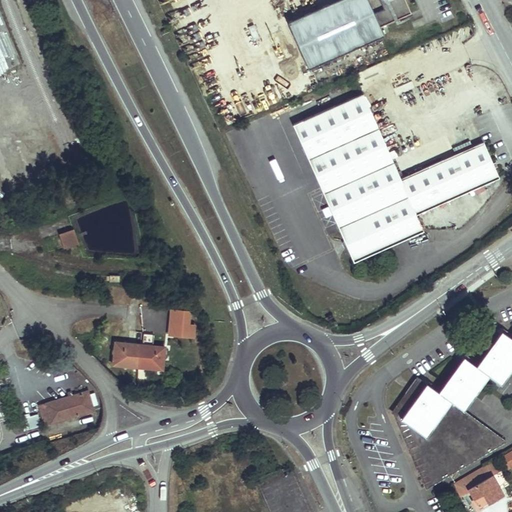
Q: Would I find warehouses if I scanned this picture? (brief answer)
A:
Yes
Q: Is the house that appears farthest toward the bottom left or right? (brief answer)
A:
right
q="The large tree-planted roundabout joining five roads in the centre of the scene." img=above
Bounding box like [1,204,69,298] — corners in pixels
[197,272,370,469]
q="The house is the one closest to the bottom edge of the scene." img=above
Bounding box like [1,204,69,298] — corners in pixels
[454,464,509,512]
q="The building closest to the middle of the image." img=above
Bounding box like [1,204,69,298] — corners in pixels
[168,310,196,339]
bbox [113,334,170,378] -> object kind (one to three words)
house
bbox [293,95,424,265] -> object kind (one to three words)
warehouse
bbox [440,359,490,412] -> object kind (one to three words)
building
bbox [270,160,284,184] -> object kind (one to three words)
vehicle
